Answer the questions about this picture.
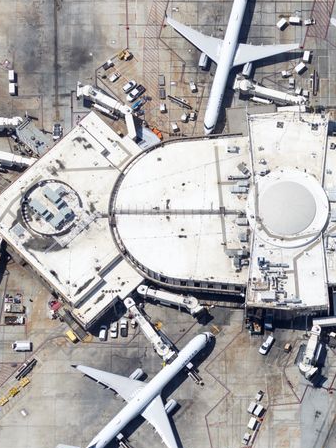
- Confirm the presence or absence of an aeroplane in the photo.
Yes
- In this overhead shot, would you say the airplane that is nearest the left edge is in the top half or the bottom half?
bottom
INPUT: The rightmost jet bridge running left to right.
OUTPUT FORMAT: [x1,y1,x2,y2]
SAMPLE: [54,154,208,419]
[231,75,310,110]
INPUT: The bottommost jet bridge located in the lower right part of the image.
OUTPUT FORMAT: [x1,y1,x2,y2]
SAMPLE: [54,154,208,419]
[297,324,322,379]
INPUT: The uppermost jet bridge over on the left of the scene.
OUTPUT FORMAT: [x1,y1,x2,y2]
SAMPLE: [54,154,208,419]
[79,83,133,119]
